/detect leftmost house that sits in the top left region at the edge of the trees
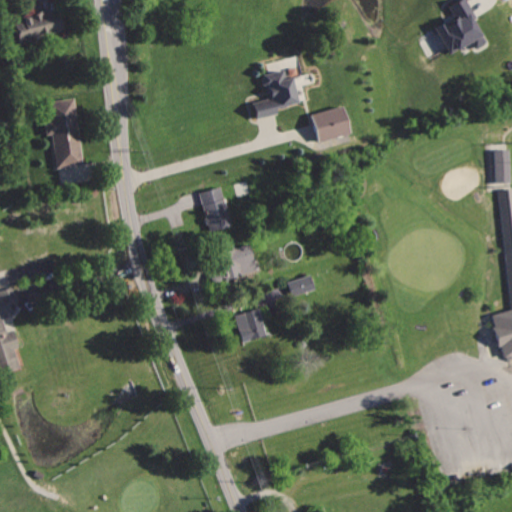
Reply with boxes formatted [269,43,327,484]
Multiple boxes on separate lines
[16,6,58,40]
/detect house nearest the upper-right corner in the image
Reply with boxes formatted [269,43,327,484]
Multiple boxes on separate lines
[438,0,492,54]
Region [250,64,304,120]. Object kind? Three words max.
house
